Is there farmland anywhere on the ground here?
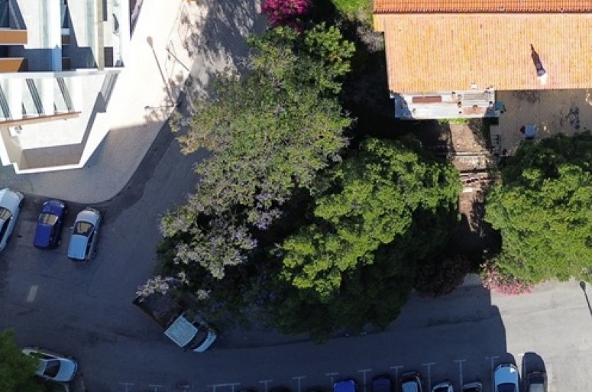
No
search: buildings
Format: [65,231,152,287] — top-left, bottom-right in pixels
[372,0,592,92]
[0,0,143,173]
